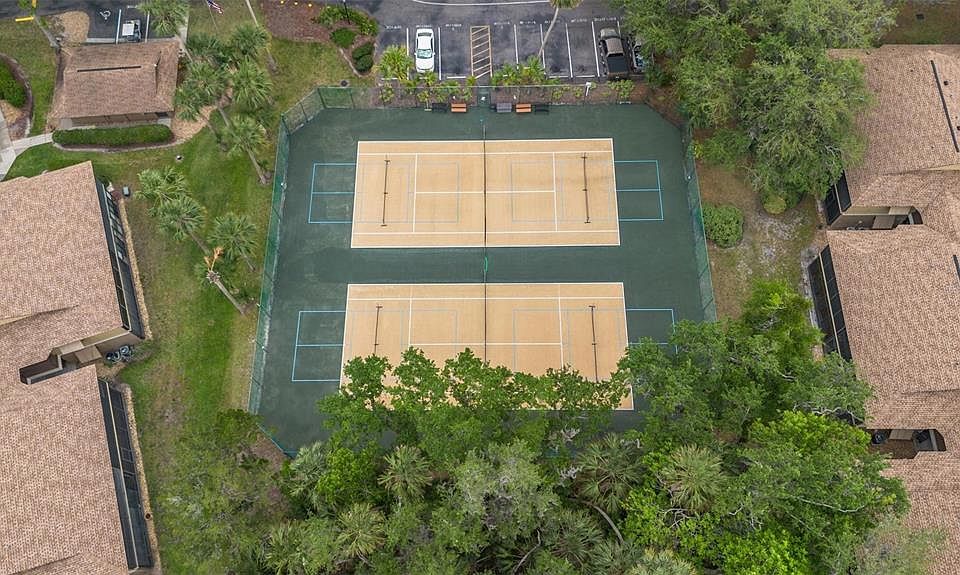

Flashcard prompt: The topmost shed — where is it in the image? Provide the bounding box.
[48,38,185,129]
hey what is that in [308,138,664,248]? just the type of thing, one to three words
tennis court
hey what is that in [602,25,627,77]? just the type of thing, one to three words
vehicle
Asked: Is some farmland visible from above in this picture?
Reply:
No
